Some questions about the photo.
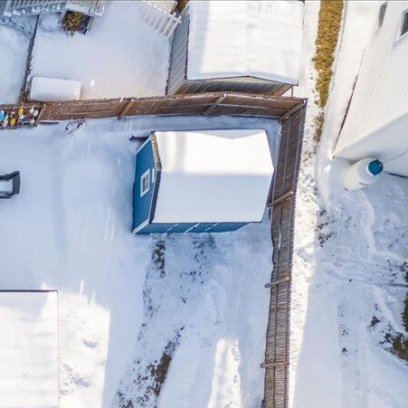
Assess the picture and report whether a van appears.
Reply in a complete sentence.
No, the picture doesn't show any van.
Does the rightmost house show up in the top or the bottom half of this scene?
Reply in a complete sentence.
Seen from above, the rightmost house lies in the top half of the view.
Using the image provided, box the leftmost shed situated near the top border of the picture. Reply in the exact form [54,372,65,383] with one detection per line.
[168,0,302,97]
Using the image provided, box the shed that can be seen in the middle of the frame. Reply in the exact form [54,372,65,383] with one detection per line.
[135,129,273,233]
